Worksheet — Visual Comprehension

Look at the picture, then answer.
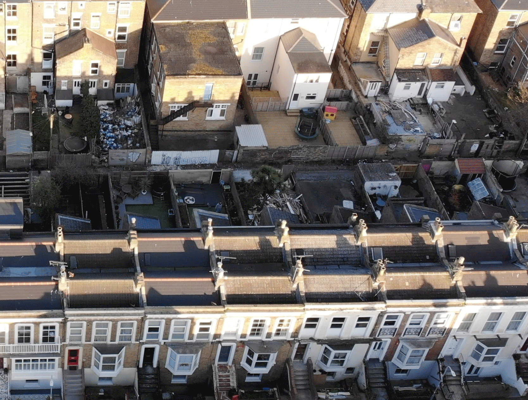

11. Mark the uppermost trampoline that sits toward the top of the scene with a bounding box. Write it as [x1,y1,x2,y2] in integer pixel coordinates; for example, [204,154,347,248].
[292,108,324,140]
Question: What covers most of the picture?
buildings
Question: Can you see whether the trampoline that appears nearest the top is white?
No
